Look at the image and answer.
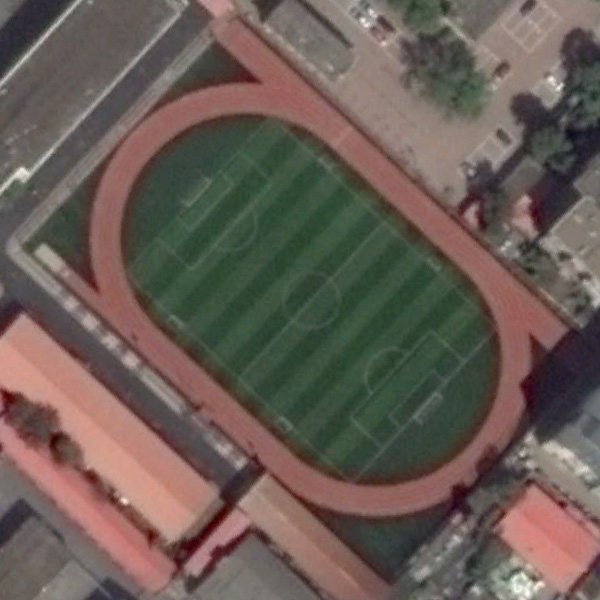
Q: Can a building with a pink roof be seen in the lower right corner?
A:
Yes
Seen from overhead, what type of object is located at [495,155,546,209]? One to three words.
shed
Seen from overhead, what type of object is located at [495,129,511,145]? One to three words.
car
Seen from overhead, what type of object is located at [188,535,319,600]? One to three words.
building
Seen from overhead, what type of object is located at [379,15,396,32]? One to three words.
vehicle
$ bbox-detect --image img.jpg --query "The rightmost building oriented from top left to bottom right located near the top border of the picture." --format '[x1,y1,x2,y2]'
[260,0,355,81]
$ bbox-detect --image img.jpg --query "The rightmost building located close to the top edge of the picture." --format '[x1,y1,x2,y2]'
[419,0,514,45]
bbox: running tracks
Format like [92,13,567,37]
[59,17,588,520]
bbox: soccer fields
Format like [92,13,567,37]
[121,112,496,487]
